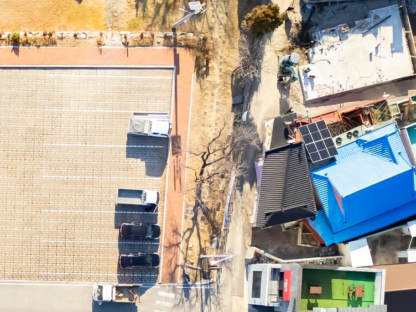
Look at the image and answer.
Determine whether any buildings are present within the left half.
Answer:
No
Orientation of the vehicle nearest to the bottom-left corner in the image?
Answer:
from side to side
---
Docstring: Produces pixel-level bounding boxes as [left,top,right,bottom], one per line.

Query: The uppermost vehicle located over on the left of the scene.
[126,115,173,135]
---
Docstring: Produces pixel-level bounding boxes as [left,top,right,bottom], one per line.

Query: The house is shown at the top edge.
[286,5,413,104]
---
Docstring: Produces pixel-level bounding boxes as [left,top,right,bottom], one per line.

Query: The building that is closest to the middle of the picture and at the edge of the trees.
[247,113,317,228]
